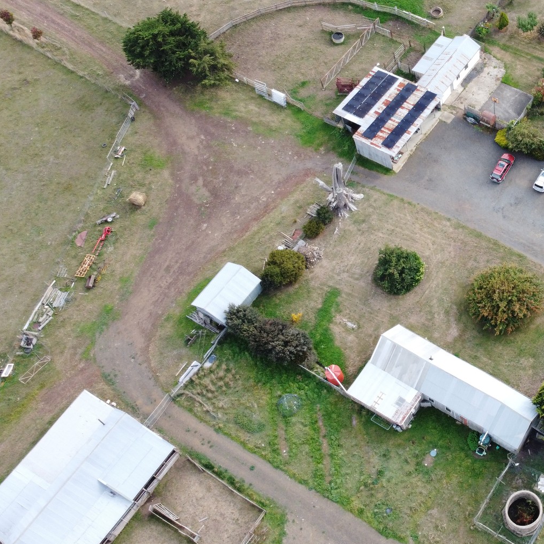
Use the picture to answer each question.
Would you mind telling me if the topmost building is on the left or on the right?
right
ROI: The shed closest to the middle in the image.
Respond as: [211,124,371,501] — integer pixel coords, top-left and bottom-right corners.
[191,262,267,333]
